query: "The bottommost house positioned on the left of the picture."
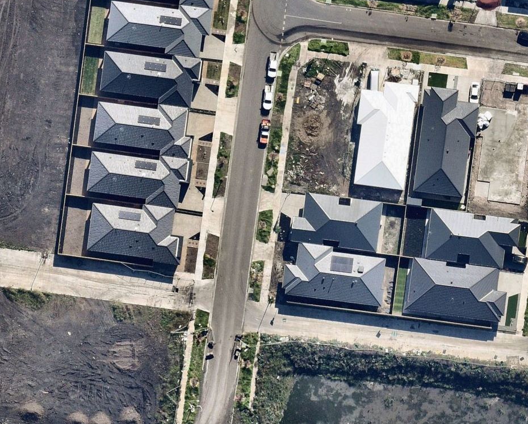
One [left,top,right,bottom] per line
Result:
[86,202,183,265]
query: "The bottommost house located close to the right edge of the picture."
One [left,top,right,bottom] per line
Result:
[407,257,507,322]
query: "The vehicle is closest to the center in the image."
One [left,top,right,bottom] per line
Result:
[259,118,271,146]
